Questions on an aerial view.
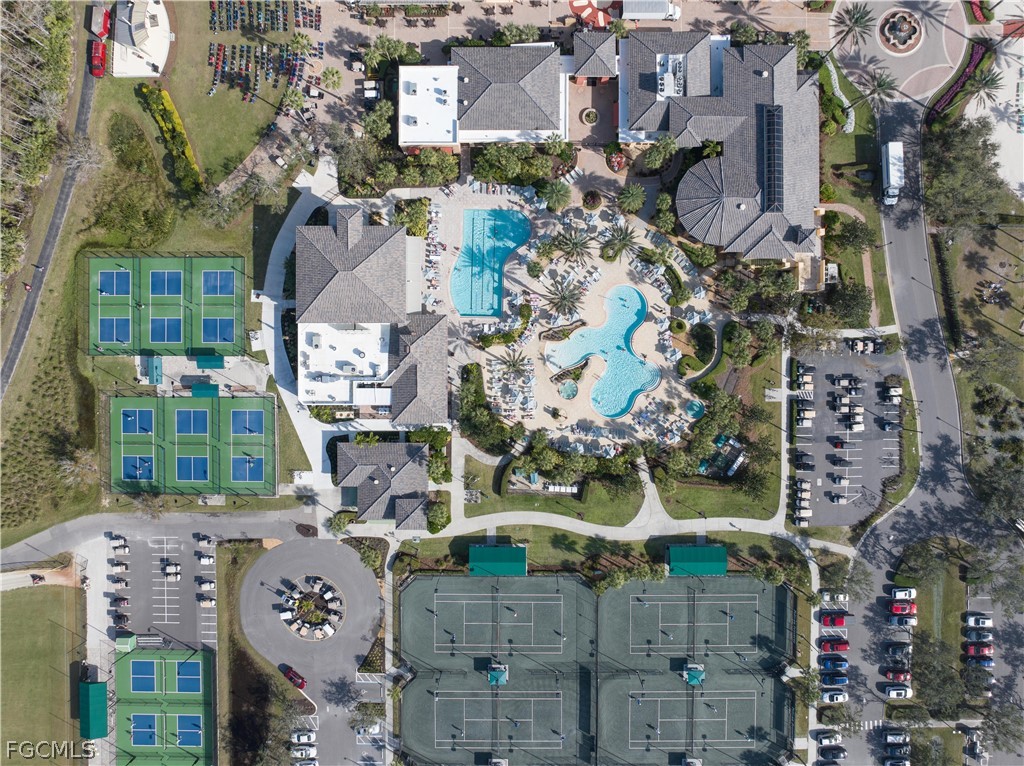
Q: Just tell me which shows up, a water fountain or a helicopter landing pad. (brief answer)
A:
water fountain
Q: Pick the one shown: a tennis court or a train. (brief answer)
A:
tennis court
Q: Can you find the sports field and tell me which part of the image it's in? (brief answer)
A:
bottom left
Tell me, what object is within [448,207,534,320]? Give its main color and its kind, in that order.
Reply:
blue swimming pool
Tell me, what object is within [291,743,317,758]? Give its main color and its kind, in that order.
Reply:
white car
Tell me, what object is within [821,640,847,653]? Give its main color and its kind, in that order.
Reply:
red vehicle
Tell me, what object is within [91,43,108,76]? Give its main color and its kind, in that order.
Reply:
red vehicle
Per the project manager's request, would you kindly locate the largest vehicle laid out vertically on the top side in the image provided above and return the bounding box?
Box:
[880,144,904,205]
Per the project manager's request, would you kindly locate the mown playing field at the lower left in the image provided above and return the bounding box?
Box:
[0,585,66,766]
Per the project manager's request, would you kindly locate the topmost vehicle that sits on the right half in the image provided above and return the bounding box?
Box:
[621,0,678,23]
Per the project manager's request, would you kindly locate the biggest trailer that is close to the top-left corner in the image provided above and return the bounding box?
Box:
[89,3,112,44]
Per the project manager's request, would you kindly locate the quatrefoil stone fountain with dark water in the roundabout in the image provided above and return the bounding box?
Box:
[876,6,927,56]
